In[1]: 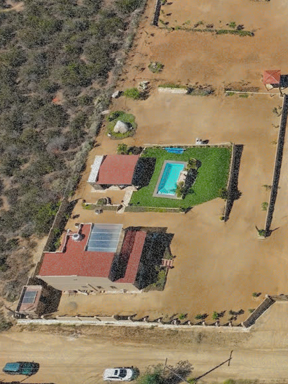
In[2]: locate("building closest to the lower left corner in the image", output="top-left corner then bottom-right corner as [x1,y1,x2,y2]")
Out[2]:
[13,285,54,320]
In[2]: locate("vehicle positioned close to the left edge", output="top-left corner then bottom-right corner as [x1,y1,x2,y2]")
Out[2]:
[0,358,36,375]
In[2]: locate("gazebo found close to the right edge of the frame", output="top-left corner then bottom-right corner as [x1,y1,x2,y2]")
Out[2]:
[263,69,285,93]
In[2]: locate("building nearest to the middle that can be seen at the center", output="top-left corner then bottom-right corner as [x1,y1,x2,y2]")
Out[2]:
[88,154,146,191]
